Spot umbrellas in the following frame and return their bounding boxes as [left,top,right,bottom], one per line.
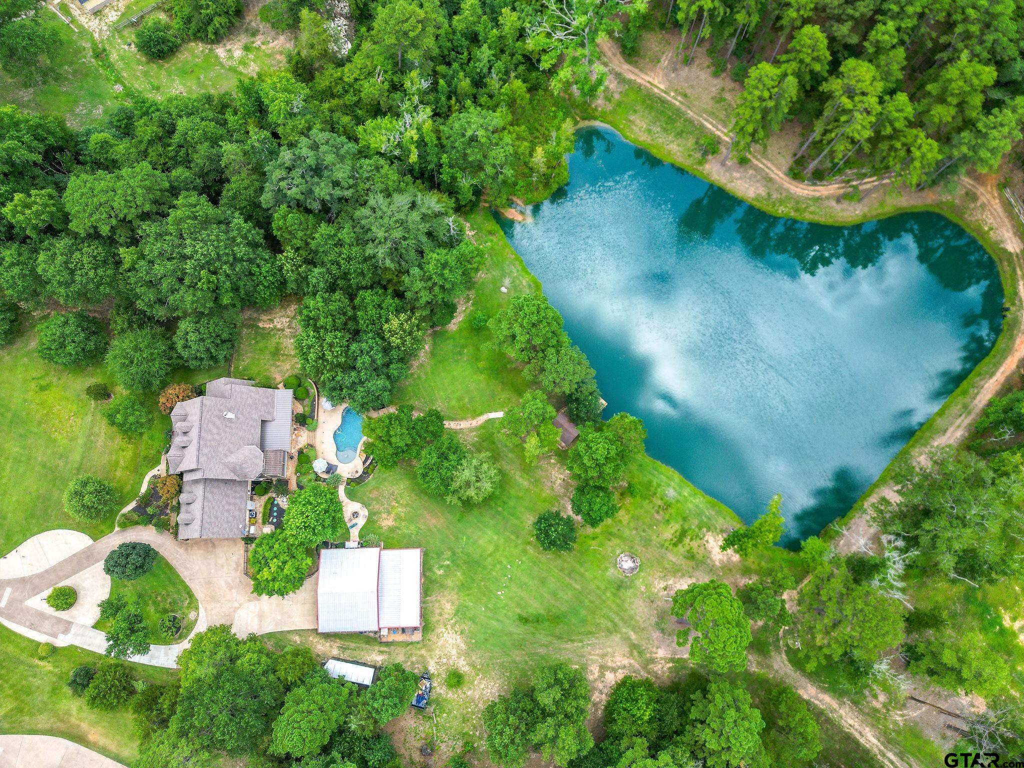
[320,397,335,410]
[313,458,328,473]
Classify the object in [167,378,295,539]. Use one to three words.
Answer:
house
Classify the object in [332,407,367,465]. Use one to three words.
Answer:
swimming pool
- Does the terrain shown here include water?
Yes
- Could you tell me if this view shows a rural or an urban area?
rural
